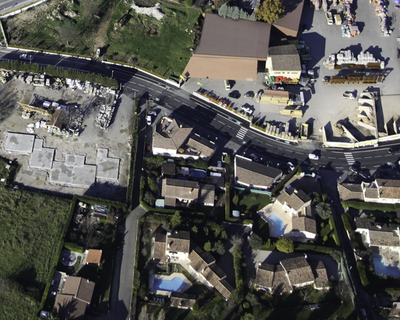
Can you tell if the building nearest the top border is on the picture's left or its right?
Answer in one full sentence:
The building nearest the top border appears in the right half of the scene.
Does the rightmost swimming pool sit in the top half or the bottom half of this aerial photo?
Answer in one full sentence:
The rightmost swimming pool sits in the bottom half of the picture.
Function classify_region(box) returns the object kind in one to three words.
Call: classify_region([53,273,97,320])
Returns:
house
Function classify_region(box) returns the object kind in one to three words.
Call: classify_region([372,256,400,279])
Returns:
swimming pool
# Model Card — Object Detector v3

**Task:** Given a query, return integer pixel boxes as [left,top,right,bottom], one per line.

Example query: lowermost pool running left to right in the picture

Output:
[153,275,189,292]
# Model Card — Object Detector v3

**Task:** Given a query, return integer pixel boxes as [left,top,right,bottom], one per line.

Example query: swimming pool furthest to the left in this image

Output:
[61,254,78,267]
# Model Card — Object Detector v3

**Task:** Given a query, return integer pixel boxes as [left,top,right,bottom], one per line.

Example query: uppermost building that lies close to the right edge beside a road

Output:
[334,179,400,205]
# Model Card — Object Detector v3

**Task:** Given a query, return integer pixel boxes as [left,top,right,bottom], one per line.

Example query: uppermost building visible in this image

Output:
[272,0,319,45]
